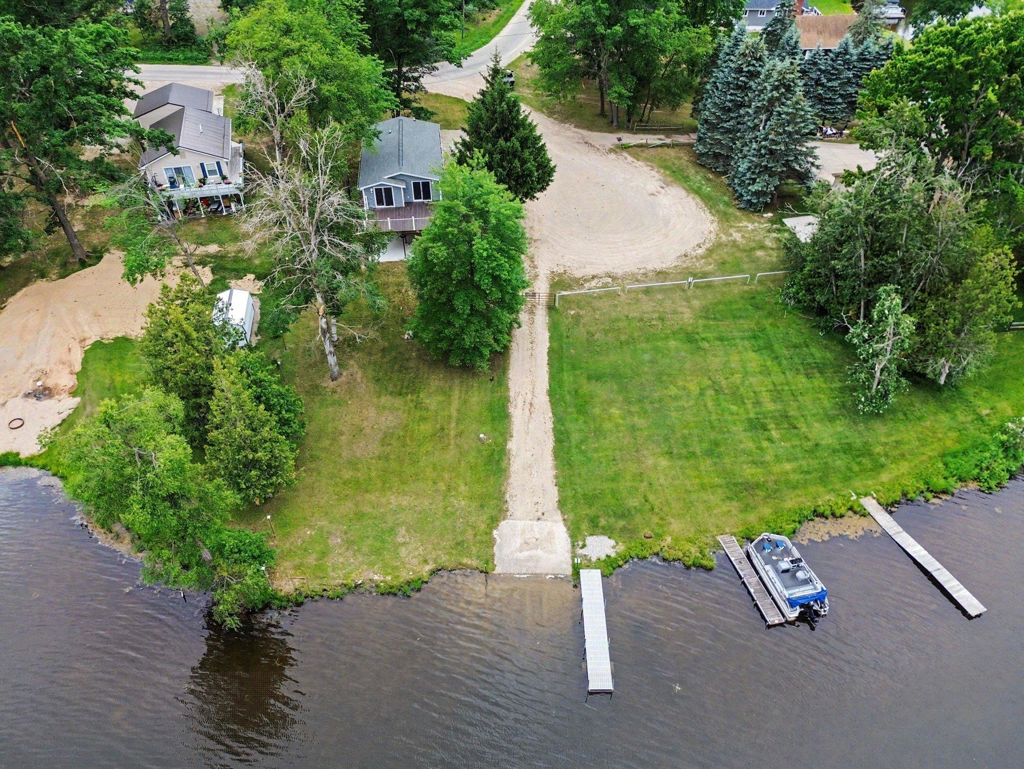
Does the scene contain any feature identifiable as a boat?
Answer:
Yes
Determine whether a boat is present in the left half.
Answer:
No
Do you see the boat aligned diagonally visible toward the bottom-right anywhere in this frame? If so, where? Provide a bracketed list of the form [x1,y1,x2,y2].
[748,533,834,629]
